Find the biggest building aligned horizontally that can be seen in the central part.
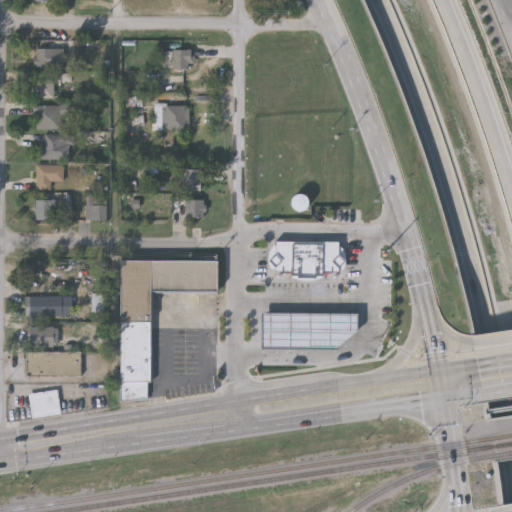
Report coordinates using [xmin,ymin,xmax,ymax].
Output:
[268,242,348,281]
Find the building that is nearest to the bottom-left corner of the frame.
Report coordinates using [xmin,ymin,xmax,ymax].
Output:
[28,390,62,418]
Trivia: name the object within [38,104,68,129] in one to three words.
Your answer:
house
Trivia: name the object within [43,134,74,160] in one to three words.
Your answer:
house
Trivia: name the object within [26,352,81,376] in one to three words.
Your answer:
building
